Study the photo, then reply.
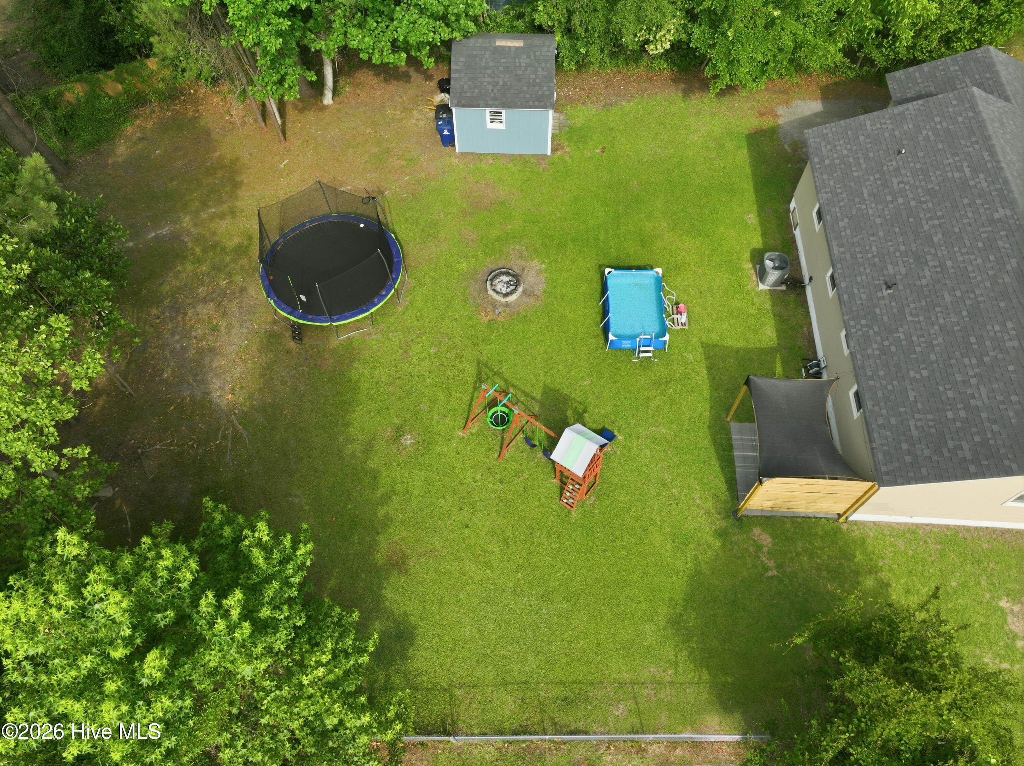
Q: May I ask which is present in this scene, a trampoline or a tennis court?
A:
trampoline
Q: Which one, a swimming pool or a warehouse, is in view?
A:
swimming pool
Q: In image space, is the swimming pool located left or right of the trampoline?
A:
right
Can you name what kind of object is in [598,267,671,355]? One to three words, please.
swimming pool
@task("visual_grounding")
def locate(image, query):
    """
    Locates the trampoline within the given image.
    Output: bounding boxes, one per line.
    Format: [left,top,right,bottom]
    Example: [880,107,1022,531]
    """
[255,176,404,338]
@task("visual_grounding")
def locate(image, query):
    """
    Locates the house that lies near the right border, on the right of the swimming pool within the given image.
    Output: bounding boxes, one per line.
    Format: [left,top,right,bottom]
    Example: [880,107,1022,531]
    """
[789,43,1024,530]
